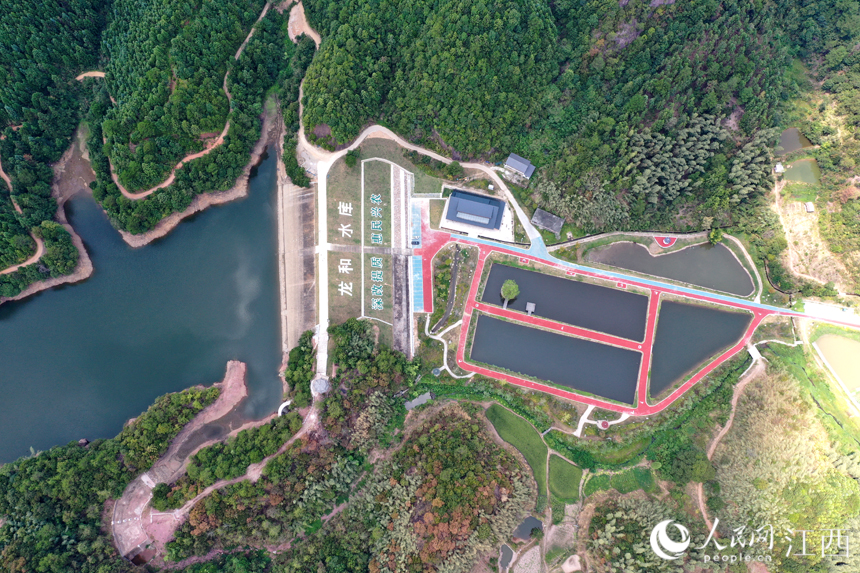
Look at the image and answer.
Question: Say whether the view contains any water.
Yes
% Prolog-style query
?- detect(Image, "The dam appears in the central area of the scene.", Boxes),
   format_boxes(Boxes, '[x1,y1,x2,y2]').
[278,150,414,385]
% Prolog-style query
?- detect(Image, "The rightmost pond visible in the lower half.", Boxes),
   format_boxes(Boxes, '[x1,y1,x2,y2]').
[810,334,860,413]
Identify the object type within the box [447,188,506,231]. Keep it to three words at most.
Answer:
building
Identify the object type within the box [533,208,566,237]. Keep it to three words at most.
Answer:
building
